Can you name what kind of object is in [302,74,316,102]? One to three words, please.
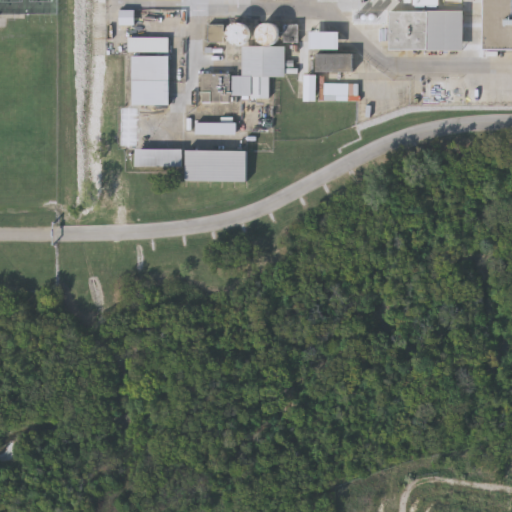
shed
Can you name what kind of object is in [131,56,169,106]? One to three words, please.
building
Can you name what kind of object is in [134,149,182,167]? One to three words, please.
building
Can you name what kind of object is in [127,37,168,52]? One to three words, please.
shed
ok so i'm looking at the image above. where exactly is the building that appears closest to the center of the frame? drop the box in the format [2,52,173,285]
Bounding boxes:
[183,150,246,182]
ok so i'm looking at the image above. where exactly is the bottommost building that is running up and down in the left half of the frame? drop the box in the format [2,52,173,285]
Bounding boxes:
[120,108,138,148]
